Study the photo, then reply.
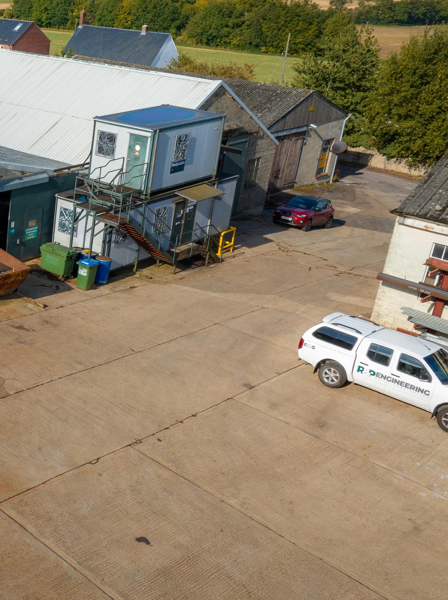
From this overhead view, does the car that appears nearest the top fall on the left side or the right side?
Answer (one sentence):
The car that appears nearest the top appears in the right half of the scene.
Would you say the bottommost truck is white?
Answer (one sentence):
Yes, the bottommost truck is indeed white.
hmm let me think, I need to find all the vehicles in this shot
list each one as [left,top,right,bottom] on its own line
[292,308,448,435]
[274,194,338,231]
